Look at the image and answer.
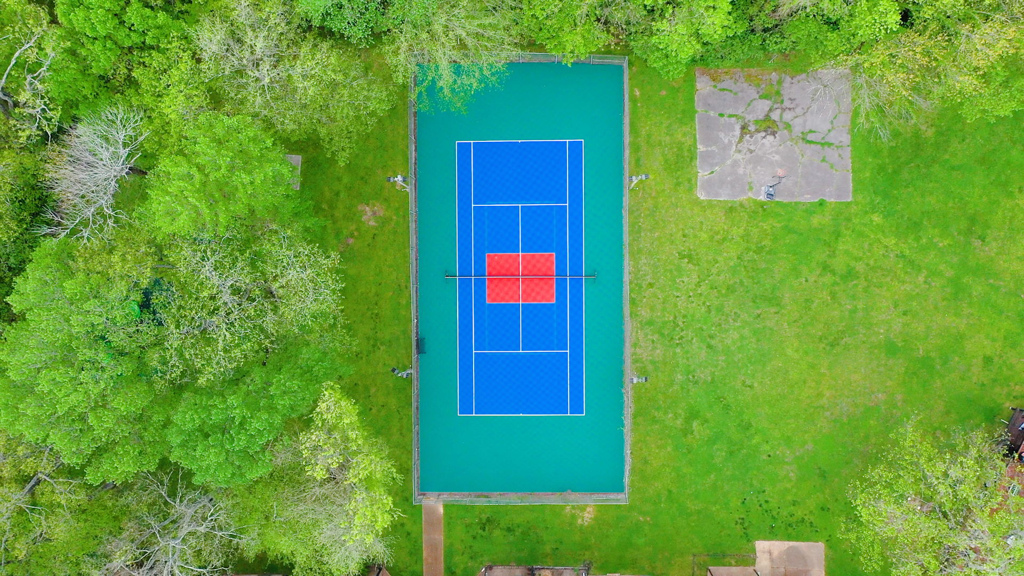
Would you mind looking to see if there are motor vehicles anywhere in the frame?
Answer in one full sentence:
No, no motor vehicle can be seen from above.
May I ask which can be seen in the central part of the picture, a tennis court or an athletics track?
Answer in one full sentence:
Looking in the central part of the picture, you will find a tennis court.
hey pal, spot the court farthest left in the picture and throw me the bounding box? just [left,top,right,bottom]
[412,60,629,497]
